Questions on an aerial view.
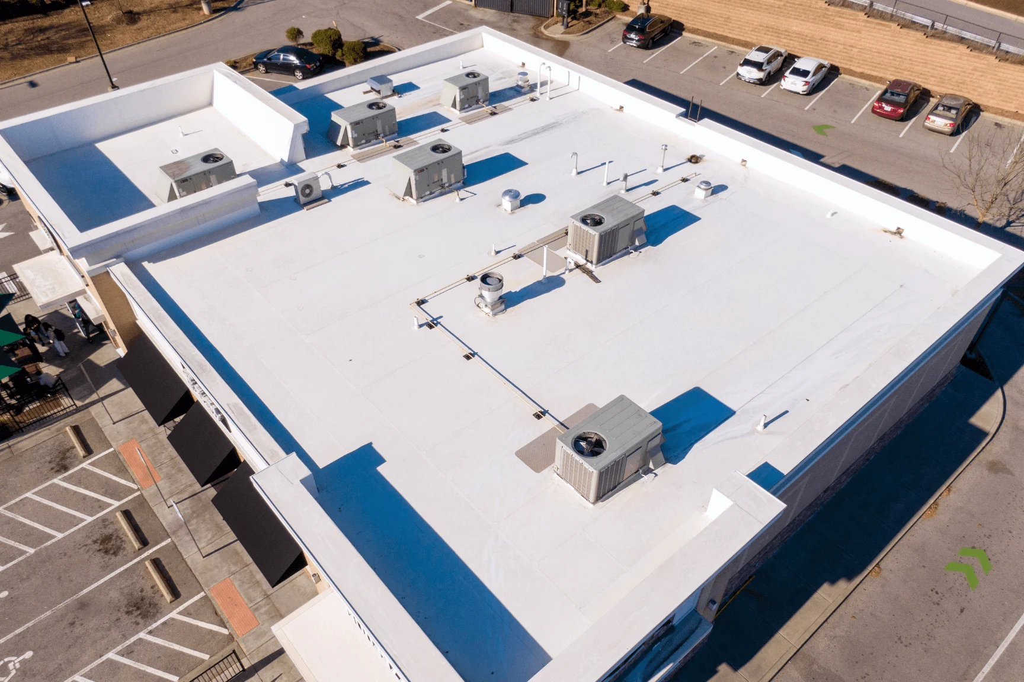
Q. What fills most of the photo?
buildings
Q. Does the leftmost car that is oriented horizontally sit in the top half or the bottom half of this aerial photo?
top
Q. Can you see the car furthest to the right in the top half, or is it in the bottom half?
top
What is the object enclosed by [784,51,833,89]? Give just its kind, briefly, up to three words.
car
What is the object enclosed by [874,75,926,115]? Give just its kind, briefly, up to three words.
car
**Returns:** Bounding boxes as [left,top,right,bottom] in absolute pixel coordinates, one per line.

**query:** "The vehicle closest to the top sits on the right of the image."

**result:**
[629,9,679,46]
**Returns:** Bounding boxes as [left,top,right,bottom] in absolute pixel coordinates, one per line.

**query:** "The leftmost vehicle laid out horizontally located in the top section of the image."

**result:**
[251,45,326,78]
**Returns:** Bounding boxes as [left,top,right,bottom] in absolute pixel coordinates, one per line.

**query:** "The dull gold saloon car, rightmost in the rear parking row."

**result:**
[926,87,979,129]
